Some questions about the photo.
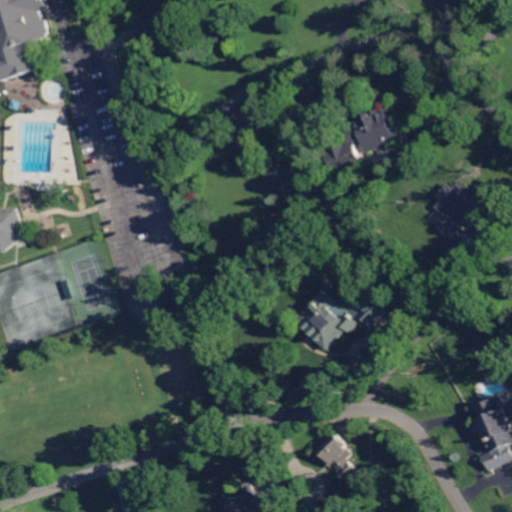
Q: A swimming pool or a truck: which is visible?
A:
swimming pool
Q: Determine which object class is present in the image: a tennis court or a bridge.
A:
tennis court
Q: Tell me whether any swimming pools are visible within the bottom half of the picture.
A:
Yes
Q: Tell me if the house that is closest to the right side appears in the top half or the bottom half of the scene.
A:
bottom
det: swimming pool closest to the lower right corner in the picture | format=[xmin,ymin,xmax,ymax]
[474,381,510,402]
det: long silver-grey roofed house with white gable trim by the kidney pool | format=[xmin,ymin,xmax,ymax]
[477,406,512,474]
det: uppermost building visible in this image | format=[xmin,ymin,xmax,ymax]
[0,0,50,84]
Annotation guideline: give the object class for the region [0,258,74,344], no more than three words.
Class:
sports court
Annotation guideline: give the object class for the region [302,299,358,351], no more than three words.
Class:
house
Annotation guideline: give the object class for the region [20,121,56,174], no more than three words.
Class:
swimming pool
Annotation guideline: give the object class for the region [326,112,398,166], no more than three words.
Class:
house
